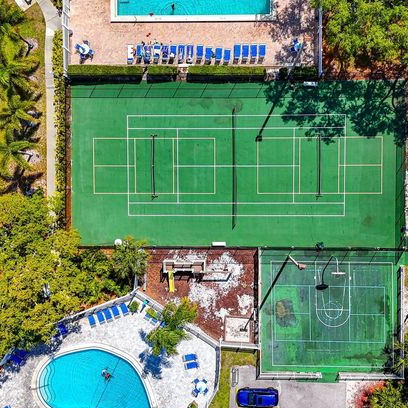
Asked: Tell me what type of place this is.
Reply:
sports ground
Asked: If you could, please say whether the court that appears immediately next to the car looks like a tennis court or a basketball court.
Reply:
basketball court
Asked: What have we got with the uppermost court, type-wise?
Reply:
tennis court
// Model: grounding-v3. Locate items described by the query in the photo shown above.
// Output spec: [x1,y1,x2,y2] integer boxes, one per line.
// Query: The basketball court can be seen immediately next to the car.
[260,250,402,382]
